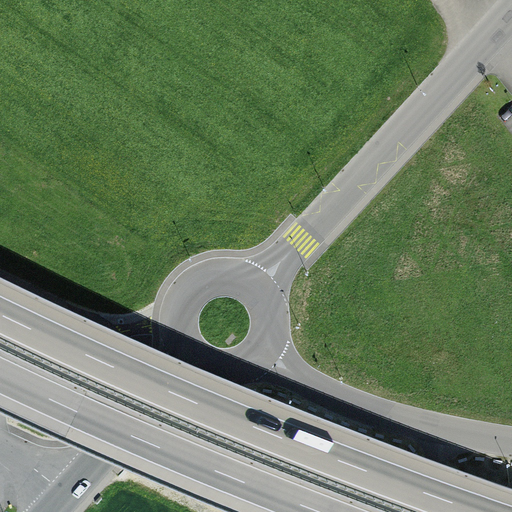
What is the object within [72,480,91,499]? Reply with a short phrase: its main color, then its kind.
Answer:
white car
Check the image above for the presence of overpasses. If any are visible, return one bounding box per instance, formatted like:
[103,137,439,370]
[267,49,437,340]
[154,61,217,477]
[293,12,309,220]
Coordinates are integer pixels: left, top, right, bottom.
[0,277,512,512]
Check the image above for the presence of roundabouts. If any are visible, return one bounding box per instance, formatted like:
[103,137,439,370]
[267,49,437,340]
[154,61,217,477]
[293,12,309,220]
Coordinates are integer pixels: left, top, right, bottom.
[131,214,302,386]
